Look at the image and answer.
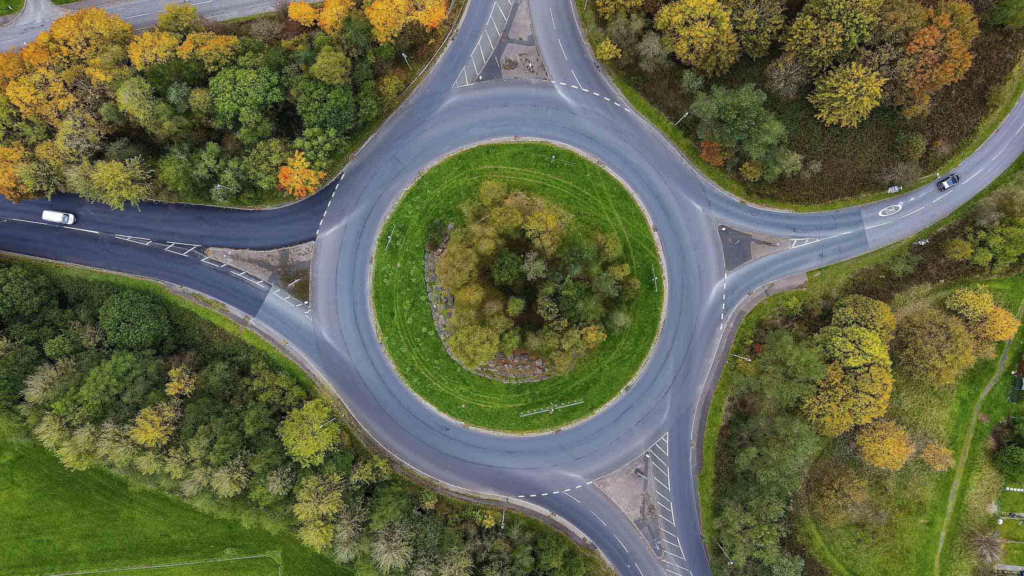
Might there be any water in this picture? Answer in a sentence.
No, the picture contains no water.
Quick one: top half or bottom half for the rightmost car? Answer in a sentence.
It is in the top half that the rightmost car appears.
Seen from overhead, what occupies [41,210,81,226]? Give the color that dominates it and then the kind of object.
white vehicle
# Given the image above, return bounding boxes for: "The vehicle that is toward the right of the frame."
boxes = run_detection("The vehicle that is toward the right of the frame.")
[934,173,960,193]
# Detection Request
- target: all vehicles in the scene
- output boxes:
[934,173,960,193]
[41,210,81,226]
